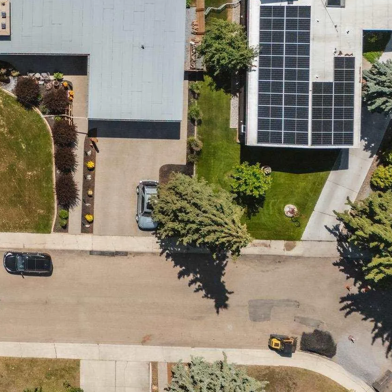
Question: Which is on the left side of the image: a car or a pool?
car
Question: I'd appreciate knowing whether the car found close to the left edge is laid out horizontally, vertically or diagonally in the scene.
horizontally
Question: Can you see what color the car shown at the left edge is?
black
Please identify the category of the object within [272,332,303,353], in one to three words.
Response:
work vehicle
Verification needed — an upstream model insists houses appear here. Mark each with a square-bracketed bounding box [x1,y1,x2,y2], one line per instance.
[231,0,392,149]
[0,0,185,121]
